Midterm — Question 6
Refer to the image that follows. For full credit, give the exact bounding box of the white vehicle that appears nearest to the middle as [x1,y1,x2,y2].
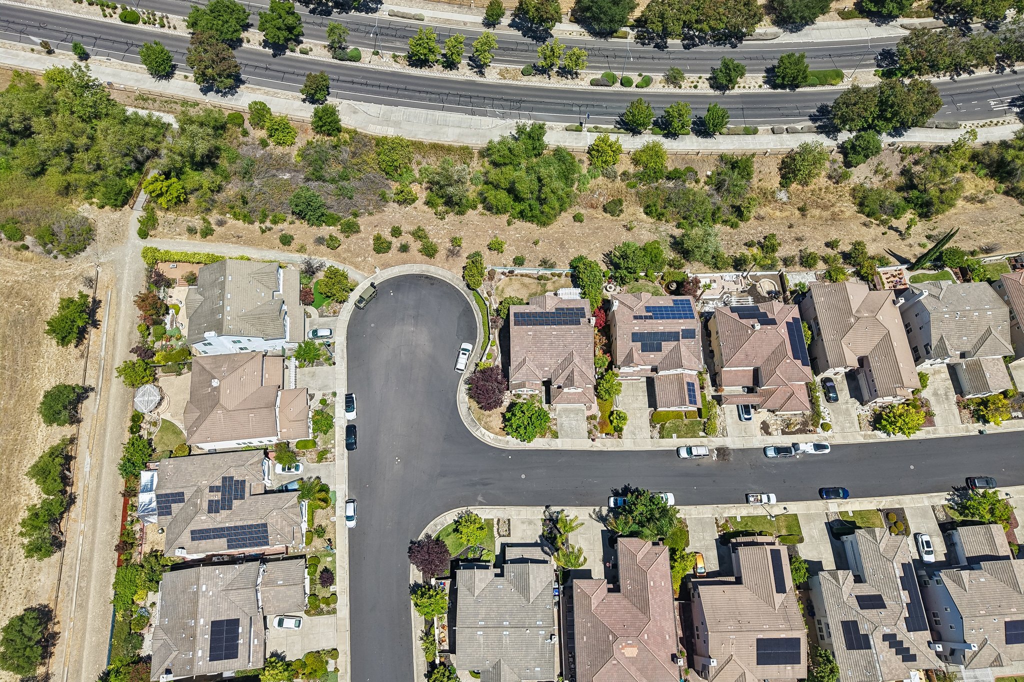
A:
[455,343,474,372]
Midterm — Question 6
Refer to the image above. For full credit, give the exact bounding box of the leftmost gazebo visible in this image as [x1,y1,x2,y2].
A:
[128,383,164,414]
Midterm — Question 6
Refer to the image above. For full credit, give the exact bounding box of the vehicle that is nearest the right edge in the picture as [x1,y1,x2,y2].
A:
[964,475,998,489]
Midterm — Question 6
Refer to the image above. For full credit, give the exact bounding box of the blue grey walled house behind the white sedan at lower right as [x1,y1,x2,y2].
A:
[922,525,1024,677]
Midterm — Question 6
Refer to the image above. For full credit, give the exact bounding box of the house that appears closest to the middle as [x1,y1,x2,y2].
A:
[509,294,597,408]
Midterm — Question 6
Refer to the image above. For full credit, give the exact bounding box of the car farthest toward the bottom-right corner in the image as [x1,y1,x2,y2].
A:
[916,532,935,566]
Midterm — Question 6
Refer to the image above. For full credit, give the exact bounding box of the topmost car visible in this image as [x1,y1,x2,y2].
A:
[356,282,378,307]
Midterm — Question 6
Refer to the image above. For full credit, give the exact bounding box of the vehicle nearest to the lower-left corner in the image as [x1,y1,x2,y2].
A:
[271,615,305,631]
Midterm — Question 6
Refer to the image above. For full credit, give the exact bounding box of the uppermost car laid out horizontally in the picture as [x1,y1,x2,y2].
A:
[307,327,333,340]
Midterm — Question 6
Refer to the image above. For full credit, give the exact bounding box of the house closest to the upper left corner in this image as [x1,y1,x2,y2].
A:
[184,258,308,355]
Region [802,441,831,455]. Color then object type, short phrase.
white car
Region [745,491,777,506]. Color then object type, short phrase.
white vehicle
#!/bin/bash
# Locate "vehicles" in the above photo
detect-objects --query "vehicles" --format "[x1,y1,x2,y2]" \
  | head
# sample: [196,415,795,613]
[344,423,358,452]
[820,376,839,404]
[343,497,358,529]
[455,343,474,372]
[745,491,777,506]
[356,282,378,307]
[646,492,676,505]
[817,486,850,501]
[677,444,711,459]
[271,615,305,631]
[964,475,998,489]
[738,404,753,425]
[802,441,831,455]
[307,327,333,340]
[344,392,358,420]
[272,473,303,494]
[764,445,795,458]
[274,461,305,475]
[692,550,708,578]
[916,532,935,566]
